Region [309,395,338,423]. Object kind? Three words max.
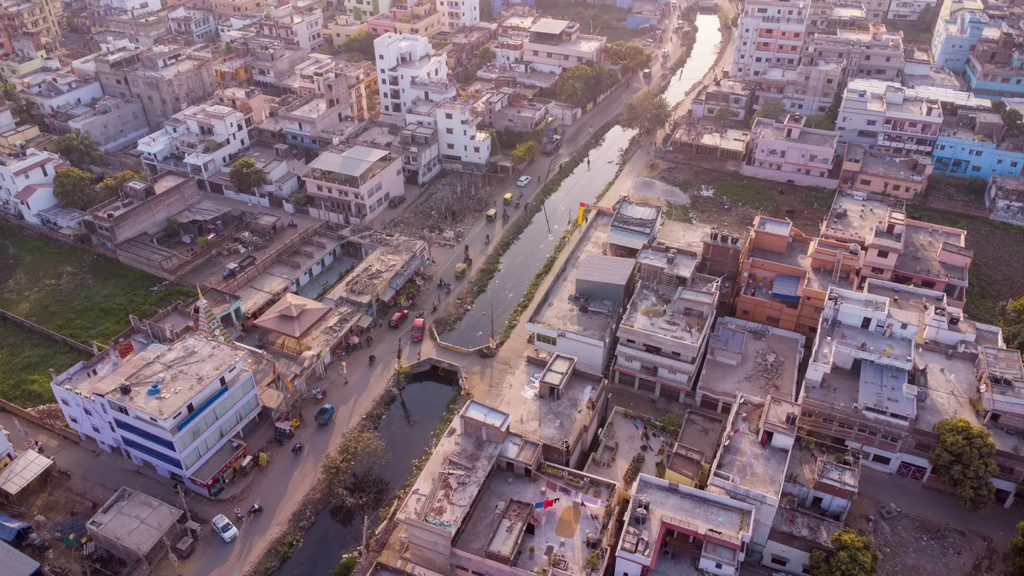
truck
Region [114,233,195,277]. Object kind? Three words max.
shed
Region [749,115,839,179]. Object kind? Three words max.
house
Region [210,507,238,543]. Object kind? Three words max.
car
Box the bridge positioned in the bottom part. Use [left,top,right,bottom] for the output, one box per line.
[392,325,509,391]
